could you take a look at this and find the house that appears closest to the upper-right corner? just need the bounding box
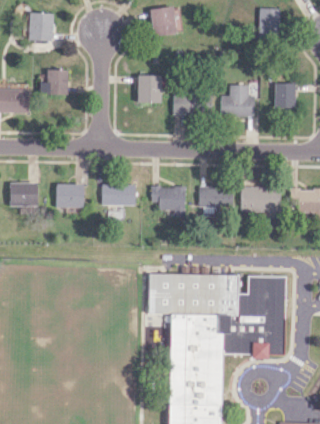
[260,8,280,34]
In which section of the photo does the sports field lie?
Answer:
bottom left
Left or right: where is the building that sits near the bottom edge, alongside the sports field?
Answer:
right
